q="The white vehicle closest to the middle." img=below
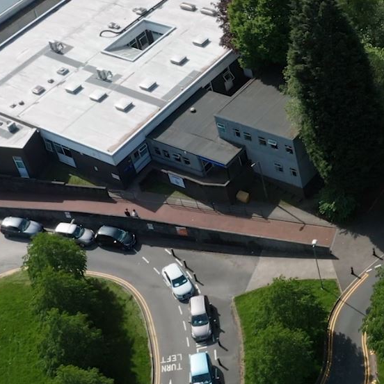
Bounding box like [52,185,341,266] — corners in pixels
[160,261,197,306]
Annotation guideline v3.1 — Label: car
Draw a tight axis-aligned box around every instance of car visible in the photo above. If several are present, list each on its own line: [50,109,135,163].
[187,295,214,343]
[53,219,95,250]
[91,225,140,254]
[187,353,215,384]
[0,217,47,242]
[160,261,197,306]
